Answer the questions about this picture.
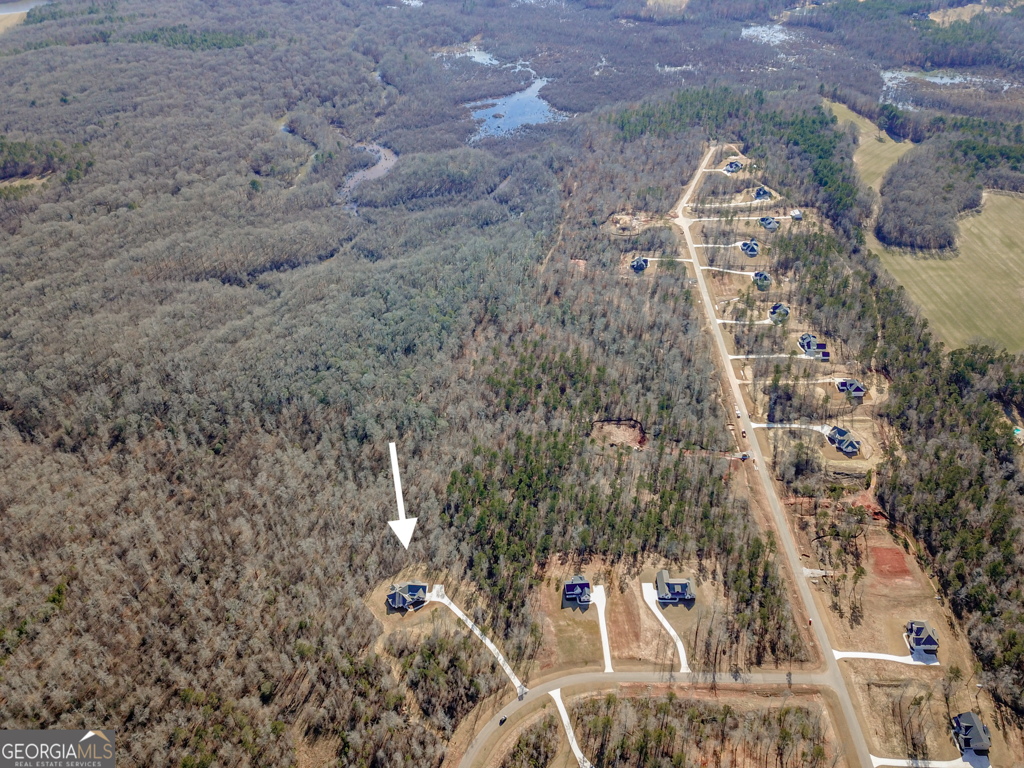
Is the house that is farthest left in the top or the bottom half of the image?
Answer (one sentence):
The bottom half of the photo is where the house that is farthest left is.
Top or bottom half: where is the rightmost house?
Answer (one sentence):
The bottom half of the photo is where the rightmost house is.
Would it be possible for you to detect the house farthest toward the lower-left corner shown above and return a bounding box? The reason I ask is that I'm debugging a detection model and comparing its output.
[387,575,428,610]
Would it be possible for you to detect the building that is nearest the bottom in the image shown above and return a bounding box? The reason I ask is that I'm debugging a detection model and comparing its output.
[947,699,992,751]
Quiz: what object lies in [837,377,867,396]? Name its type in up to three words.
house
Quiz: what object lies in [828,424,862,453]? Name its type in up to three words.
house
